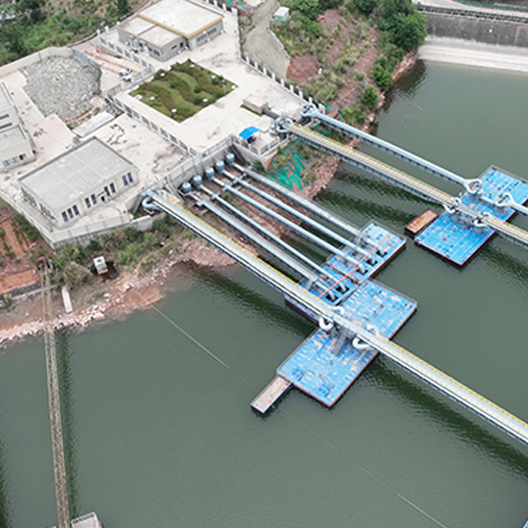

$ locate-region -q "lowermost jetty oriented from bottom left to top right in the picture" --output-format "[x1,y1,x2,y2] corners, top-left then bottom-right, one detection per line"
[279,276,417,410]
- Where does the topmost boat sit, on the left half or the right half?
right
